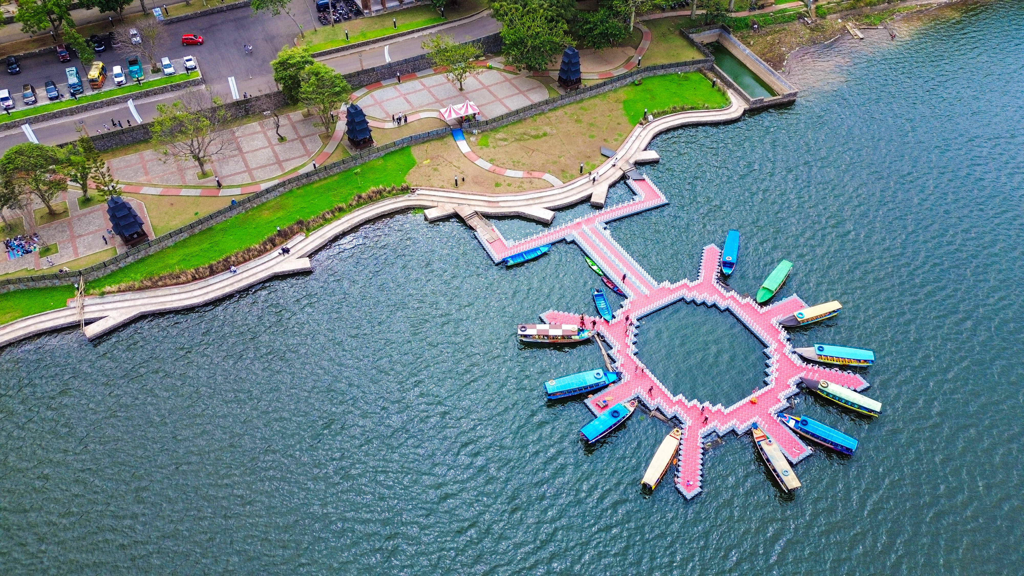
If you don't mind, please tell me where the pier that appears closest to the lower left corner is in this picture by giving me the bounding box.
[85,316,141,346]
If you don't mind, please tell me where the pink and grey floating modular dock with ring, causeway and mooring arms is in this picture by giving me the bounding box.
[471,169,869,498]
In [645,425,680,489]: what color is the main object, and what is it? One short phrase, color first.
white boat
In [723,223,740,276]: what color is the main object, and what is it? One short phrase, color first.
blue boat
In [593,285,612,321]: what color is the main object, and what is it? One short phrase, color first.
blue boat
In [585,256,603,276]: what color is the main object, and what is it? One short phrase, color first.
green boat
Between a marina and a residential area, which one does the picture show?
marina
